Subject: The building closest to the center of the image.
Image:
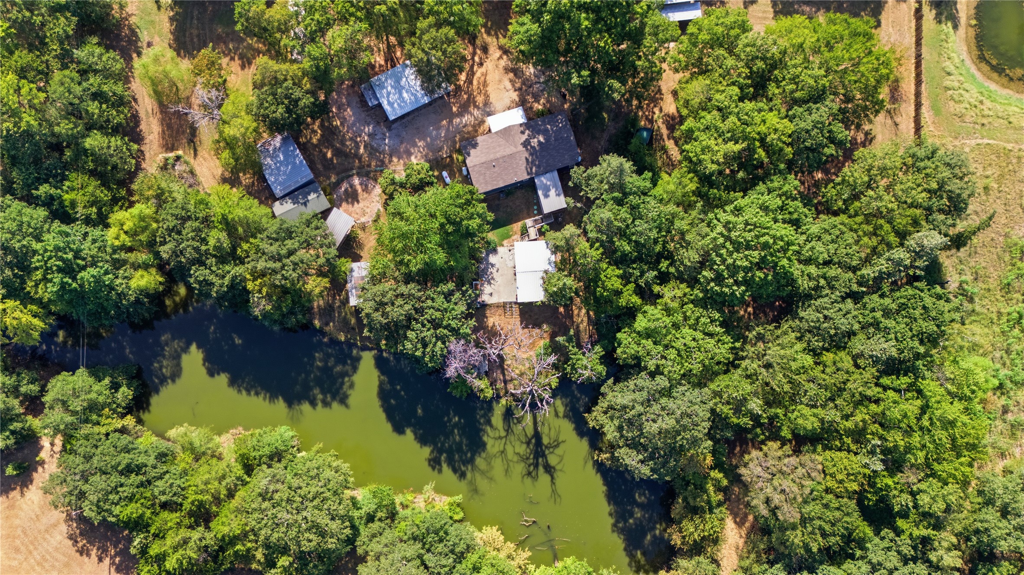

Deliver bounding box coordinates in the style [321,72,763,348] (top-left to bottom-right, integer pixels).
[514,240,556,302]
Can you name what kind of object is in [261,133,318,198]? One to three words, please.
shed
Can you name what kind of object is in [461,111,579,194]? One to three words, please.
house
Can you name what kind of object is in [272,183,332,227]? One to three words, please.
shed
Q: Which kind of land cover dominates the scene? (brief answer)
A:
trees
